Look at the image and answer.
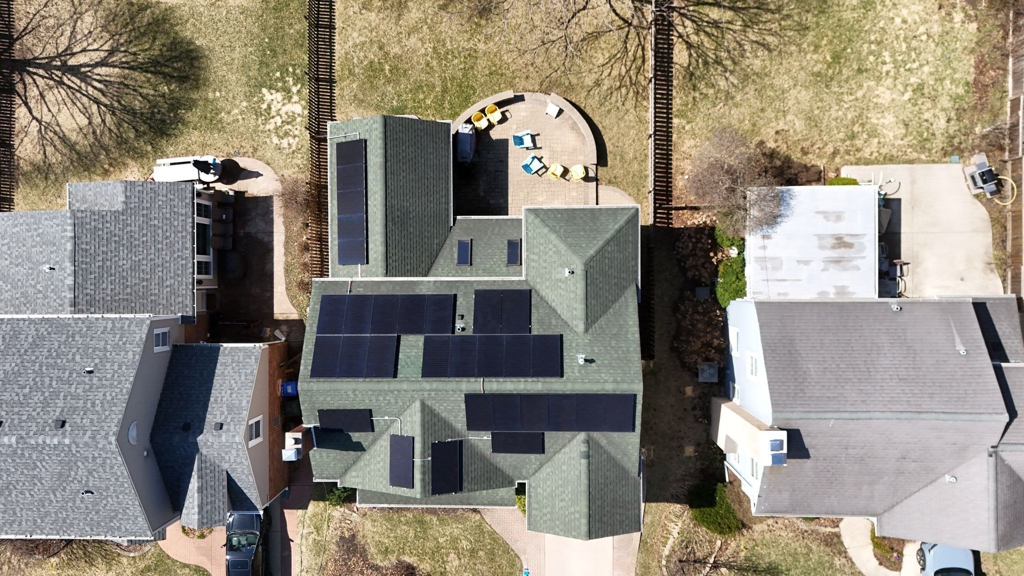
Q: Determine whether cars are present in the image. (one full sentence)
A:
Yes, the photo shows a car.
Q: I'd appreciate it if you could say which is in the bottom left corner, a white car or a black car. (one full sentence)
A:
What appears in the bottom left corner is a black car.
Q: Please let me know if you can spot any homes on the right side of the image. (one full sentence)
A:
Yes, I can see a home on the right side of the image.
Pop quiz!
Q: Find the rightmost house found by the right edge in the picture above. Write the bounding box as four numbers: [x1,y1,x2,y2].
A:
[709,159,1024,552]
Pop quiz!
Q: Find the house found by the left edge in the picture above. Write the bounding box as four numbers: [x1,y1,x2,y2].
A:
[0,180,290,543]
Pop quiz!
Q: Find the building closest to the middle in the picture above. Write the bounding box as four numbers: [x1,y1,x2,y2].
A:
[282,115,645,540]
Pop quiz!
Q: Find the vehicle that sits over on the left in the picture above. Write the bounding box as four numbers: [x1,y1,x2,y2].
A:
[218,508,273,576]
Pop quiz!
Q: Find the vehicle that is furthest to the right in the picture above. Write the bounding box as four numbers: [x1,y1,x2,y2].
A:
[918,543,973,576]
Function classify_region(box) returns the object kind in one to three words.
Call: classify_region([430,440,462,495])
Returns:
solar panel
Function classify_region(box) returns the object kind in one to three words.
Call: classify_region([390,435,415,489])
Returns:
solar panel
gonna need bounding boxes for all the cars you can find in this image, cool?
[918,543,973,576]
[218,508,273,576]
